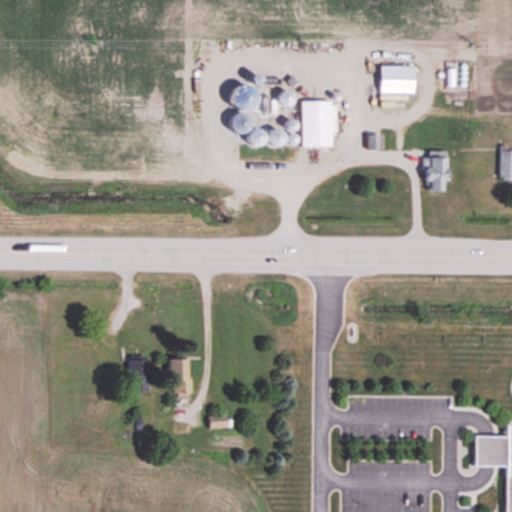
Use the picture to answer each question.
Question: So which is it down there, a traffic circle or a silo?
silo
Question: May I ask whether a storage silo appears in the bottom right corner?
No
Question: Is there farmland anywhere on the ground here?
Yes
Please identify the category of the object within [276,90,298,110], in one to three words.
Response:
silo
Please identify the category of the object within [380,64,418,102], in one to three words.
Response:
barn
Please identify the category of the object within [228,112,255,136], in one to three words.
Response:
silo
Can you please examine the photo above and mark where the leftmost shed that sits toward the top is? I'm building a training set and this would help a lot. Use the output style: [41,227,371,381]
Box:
[300,100,334,148]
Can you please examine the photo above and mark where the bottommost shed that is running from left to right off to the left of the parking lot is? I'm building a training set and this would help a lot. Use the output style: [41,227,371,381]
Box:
[208,416,234,430]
